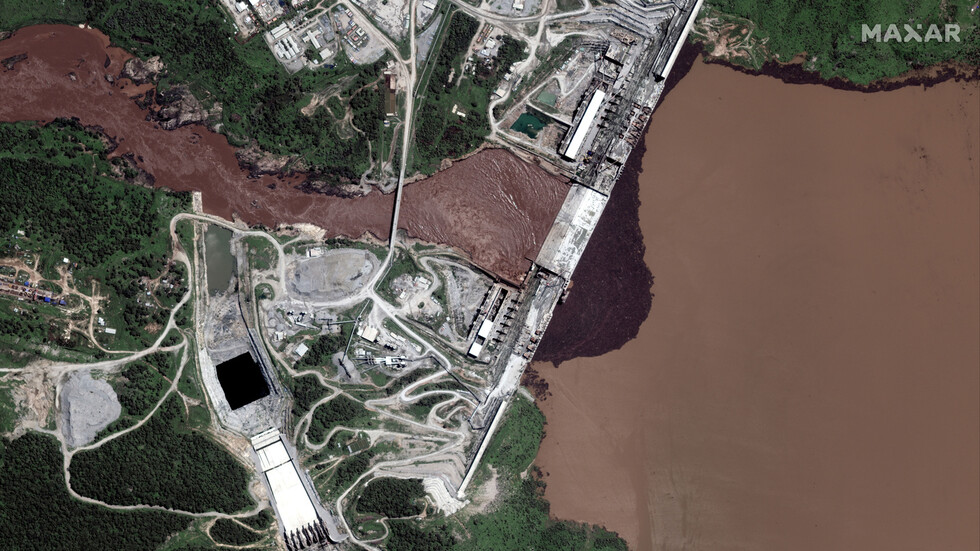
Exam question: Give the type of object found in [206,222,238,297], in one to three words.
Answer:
pond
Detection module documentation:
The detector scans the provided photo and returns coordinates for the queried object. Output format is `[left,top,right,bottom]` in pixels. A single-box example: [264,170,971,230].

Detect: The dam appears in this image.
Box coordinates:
[456,0,703,499]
